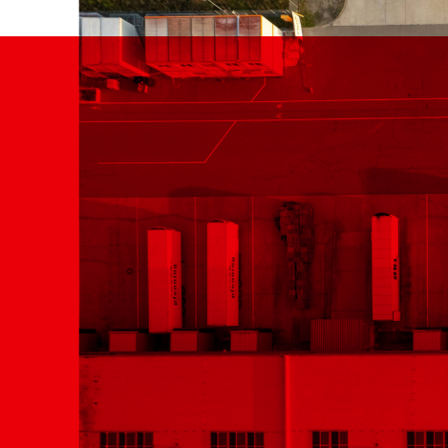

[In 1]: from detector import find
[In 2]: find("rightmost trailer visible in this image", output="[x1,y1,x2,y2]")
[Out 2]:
[371,212,402,321]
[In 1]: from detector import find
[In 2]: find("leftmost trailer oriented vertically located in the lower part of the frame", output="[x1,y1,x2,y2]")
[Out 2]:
[147,227,185,332]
